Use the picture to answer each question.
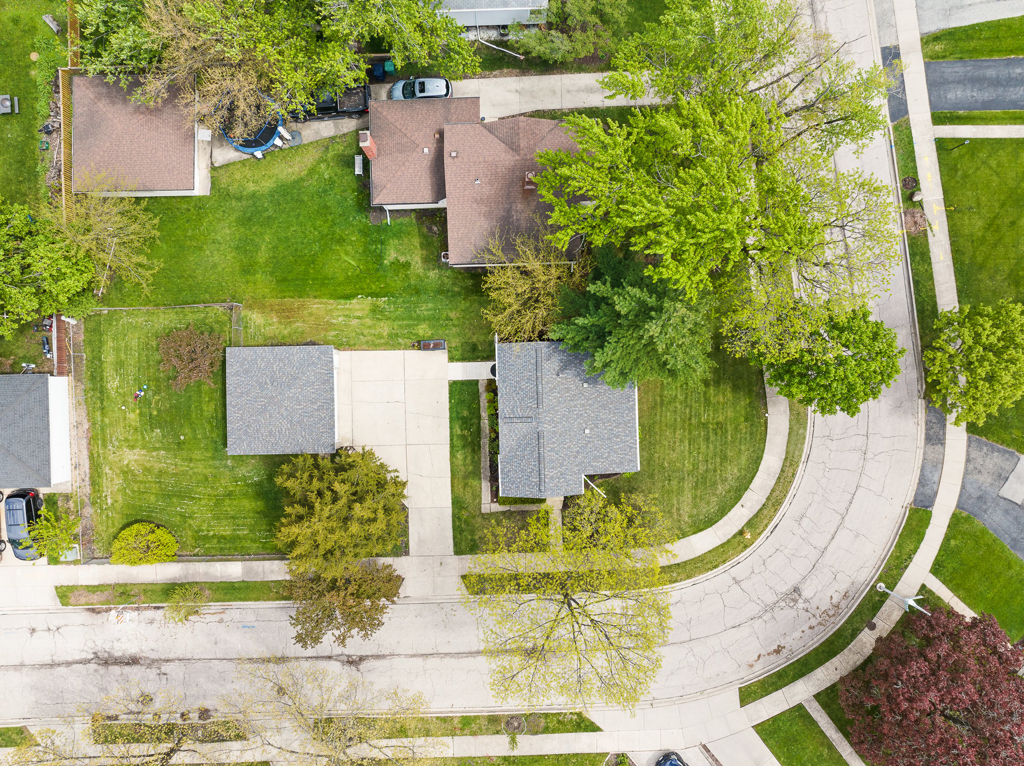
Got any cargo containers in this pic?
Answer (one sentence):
No, no cargo container can be seen from above.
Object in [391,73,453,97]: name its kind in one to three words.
car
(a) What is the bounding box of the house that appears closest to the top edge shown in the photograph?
[438,0,548,57]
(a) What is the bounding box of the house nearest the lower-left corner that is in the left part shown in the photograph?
[0,373,70,488]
